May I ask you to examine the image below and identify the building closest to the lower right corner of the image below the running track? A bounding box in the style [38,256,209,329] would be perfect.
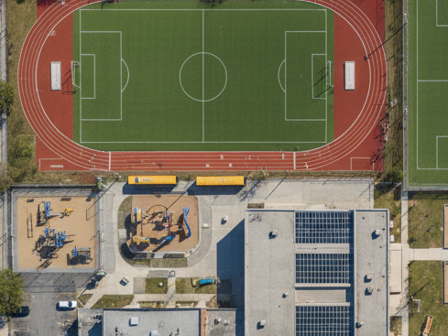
[245,209,393,336]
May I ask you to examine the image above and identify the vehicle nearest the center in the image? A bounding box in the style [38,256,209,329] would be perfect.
[197,175,248,188]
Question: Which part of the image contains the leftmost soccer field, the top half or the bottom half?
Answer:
top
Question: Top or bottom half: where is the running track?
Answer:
top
